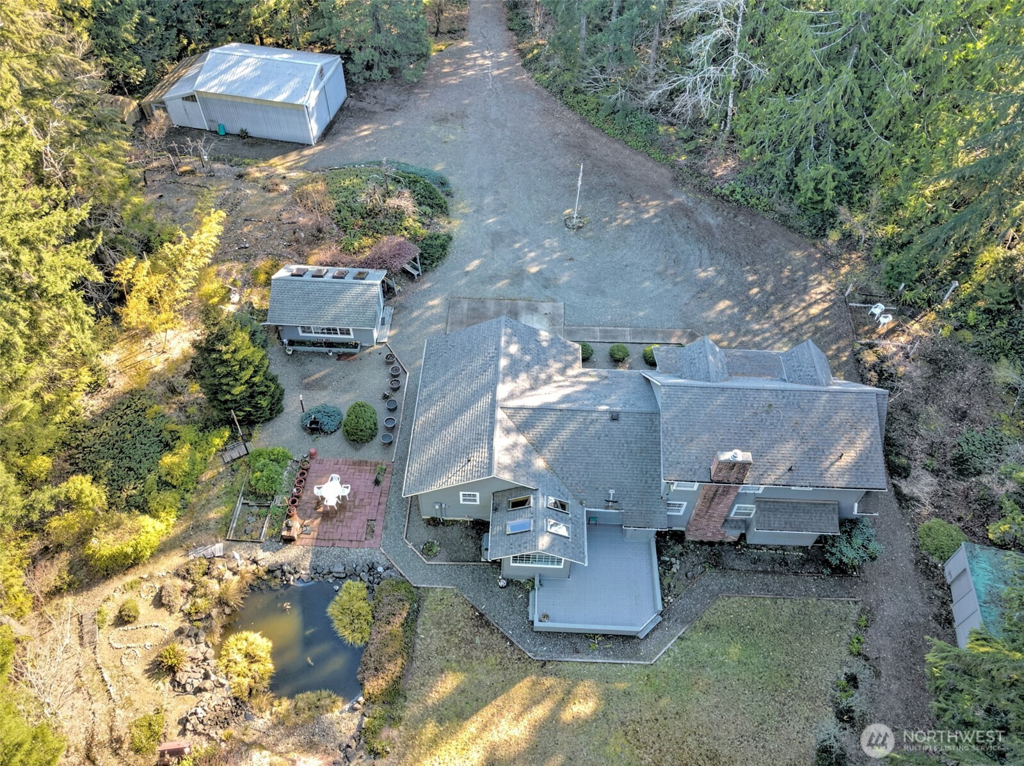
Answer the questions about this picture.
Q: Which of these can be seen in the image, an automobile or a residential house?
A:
residential house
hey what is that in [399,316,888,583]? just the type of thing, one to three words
house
